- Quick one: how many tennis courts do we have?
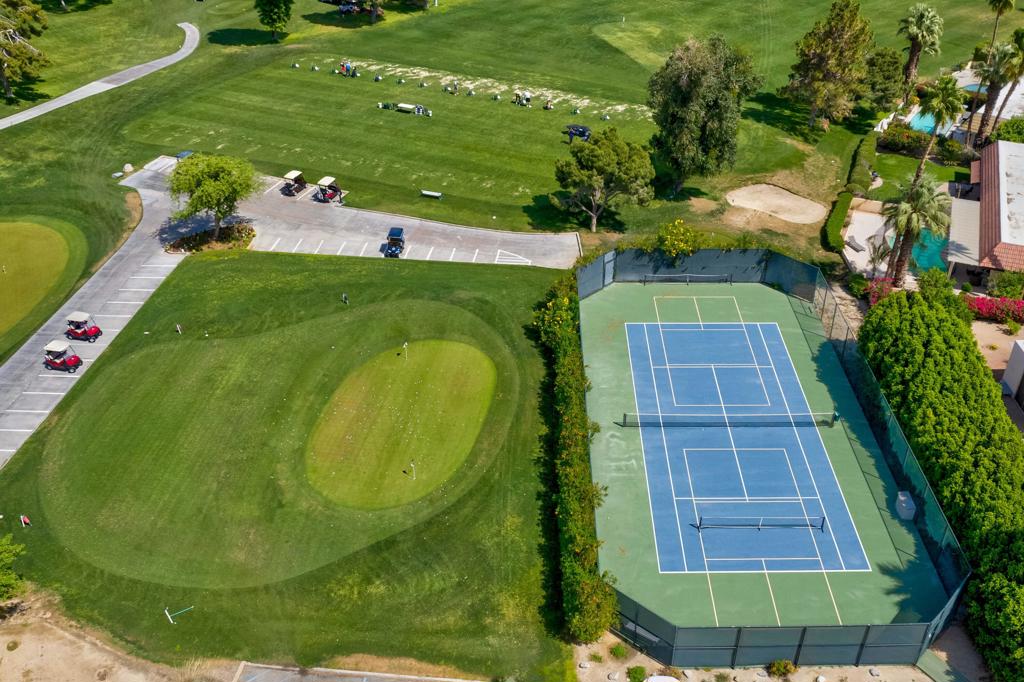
1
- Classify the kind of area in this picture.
golf course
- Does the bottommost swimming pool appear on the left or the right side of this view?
right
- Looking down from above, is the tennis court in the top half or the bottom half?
bottom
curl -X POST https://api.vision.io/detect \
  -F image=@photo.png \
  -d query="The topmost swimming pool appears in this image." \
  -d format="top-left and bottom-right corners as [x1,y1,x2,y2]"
[960,81,988,96]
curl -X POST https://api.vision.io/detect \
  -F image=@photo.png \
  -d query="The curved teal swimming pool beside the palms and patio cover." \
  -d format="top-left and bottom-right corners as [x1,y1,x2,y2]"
[882,220,948,276]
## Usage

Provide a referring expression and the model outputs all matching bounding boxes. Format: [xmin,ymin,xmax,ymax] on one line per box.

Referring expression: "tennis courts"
[583,282,949,667]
